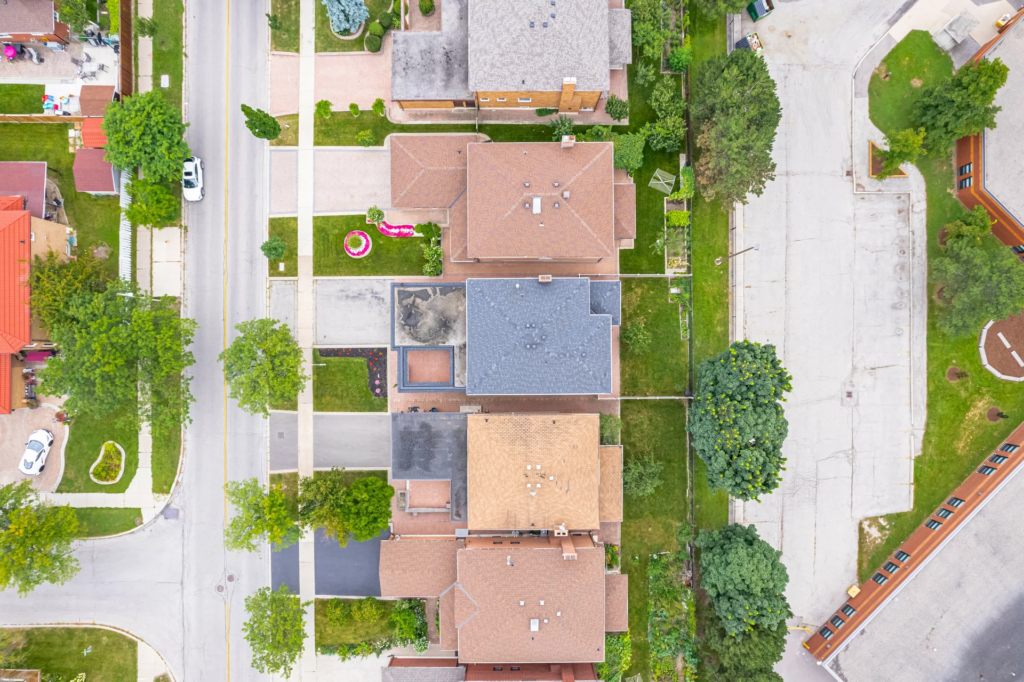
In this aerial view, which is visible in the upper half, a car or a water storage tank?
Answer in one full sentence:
The feature located in the upper half is a car.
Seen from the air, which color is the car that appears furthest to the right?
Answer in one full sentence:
The car that appears furthest to the right is white.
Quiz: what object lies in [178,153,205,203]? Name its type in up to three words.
car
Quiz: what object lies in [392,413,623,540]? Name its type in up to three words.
house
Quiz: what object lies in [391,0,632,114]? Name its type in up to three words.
house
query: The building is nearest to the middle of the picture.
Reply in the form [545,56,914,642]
[390,271,622,396]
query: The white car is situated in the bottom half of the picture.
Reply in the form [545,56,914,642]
[14,427,55,479]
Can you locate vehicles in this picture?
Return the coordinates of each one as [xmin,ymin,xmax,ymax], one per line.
[14,427,55,479]
[178,153,205,203]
